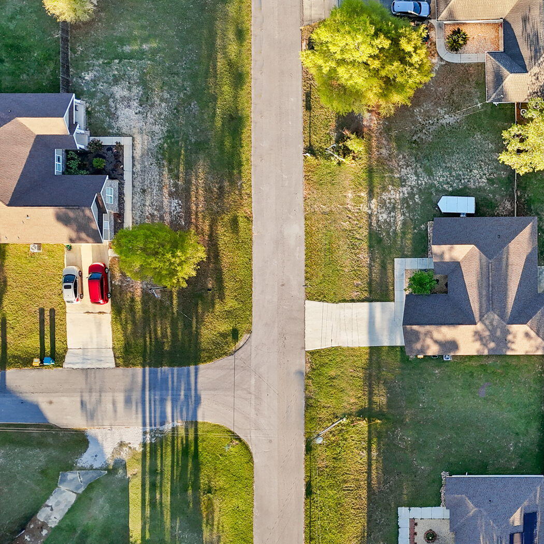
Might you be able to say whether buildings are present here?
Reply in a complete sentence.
Yes, the photo shows a building.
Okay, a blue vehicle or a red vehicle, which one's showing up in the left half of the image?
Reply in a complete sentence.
The feature located in the left half of the image is a red vehicle.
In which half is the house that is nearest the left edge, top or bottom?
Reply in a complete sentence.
You can find the house that is nearest the left edge in the top half.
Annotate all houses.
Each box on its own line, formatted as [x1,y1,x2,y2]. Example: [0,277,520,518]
[402,216,544,355]
[435,0,544,105]
[446,474,544,544]
[0,93,118,244]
